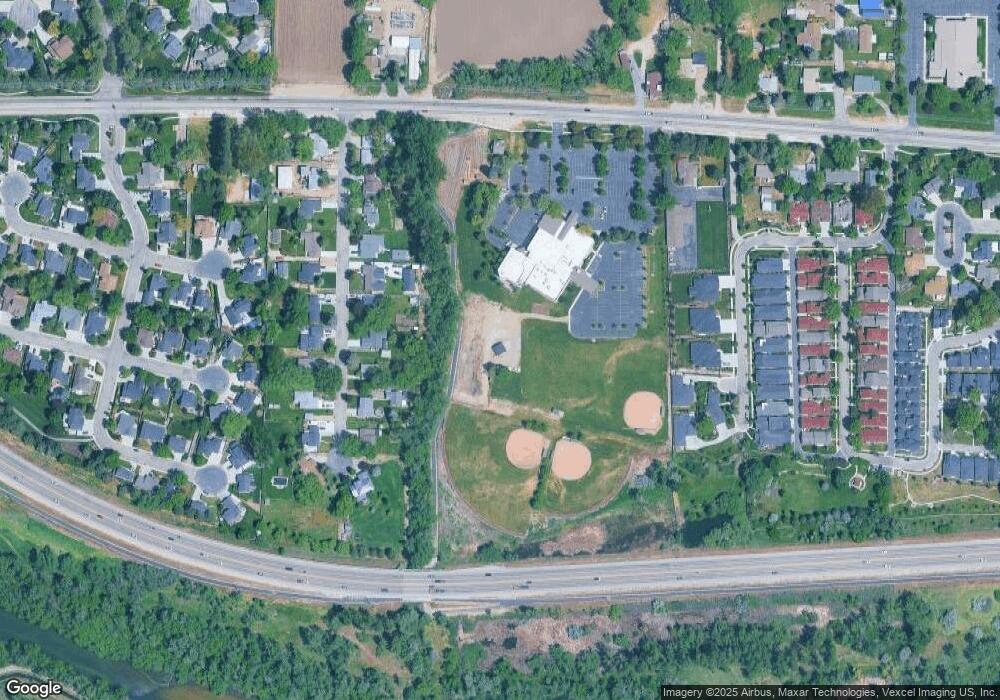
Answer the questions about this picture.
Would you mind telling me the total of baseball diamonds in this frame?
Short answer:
3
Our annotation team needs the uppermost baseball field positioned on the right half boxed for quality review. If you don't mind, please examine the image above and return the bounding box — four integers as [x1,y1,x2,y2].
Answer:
[581,350,665,438]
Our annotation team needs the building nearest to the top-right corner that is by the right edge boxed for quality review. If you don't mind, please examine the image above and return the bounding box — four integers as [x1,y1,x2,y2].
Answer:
[930,17,986,88]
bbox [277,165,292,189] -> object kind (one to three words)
barn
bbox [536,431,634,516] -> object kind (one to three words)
baseball field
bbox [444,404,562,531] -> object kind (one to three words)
baseball field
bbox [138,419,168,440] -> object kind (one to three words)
house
